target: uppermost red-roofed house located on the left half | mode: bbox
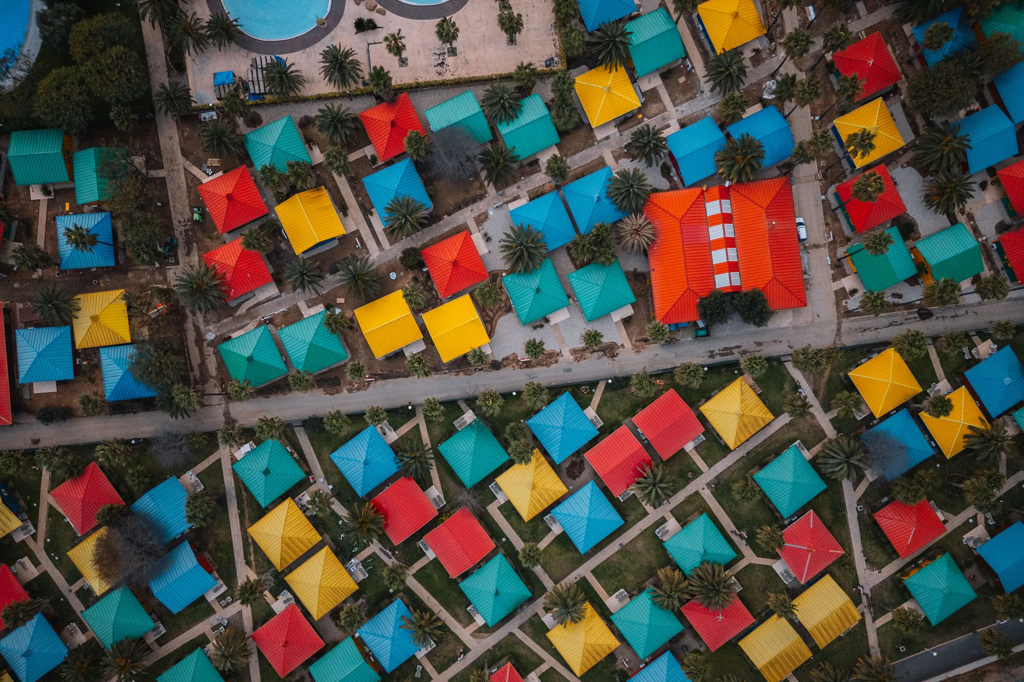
[359,91,429,163]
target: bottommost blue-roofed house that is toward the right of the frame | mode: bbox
[625,645,691,682]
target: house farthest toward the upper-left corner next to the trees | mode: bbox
[5,129,75,186]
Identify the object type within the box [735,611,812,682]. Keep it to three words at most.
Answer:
house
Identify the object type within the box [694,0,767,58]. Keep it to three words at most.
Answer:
house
